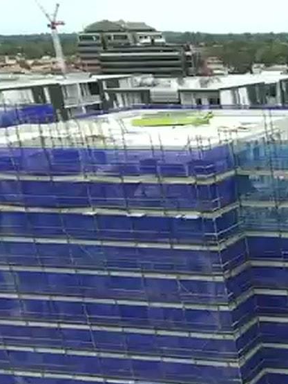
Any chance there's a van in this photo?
No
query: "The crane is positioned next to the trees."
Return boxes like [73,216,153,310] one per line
[35,0,70,83]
